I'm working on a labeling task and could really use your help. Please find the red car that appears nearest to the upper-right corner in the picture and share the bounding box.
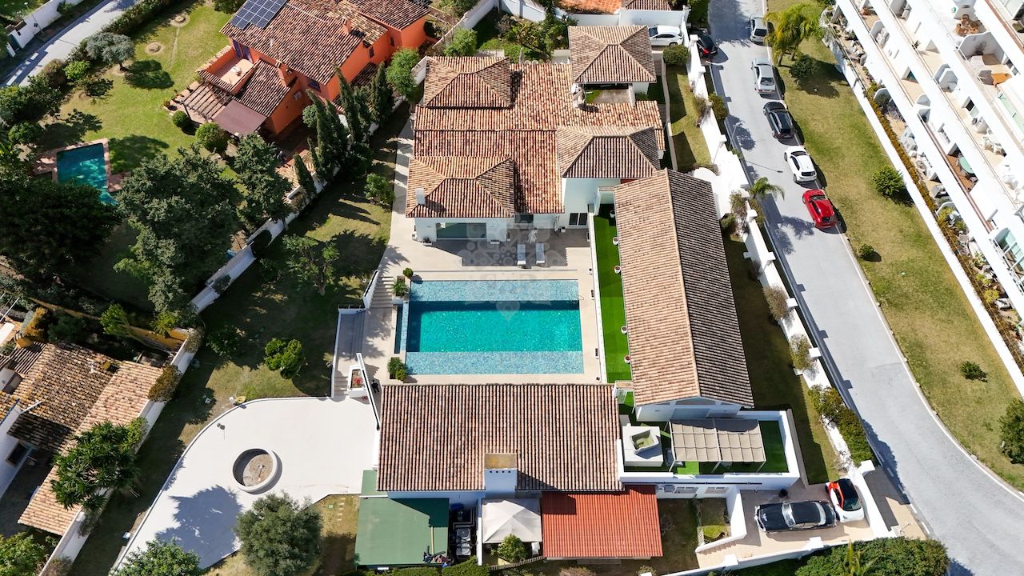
[805,186,844,228]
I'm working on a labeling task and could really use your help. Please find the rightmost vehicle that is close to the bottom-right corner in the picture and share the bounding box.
[829,478,869,525]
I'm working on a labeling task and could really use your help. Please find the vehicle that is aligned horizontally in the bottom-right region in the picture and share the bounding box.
[757,495,842,532]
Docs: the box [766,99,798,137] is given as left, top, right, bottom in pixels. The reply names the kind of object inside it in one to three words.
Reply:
car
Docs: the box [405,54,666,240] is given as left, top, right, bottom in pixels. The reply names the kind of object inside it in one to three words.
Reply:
house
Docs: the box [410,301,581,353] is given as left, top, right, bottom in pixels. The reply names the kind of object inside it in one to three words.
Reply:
swimming pool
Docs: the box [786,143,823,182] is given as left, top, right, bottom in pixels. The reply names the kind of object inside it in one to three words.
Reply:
car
